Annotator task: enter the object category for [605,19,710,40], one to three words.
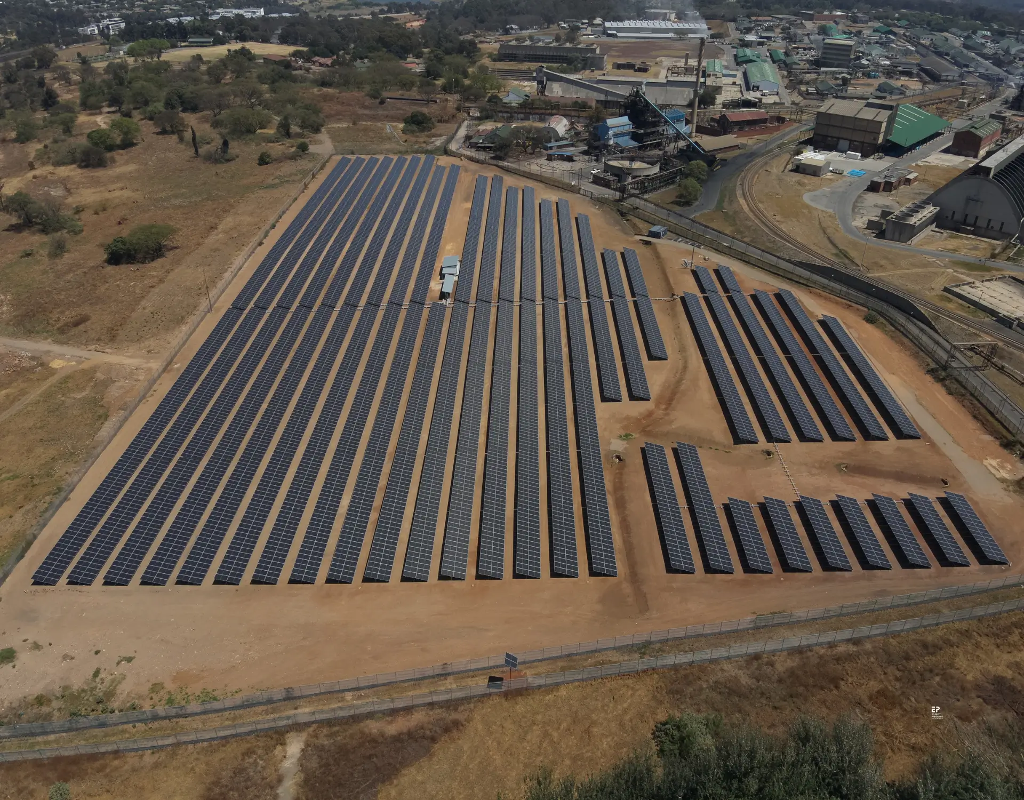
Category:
building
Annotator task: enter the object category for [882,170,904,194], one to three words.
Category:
building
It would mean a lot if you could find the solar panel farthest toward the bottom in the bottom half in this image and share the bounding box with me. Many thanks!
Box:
[503,653,516,690]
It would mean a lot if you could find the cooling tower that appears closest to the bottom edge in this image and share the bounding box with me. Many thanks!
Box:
[886,193,926,244]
